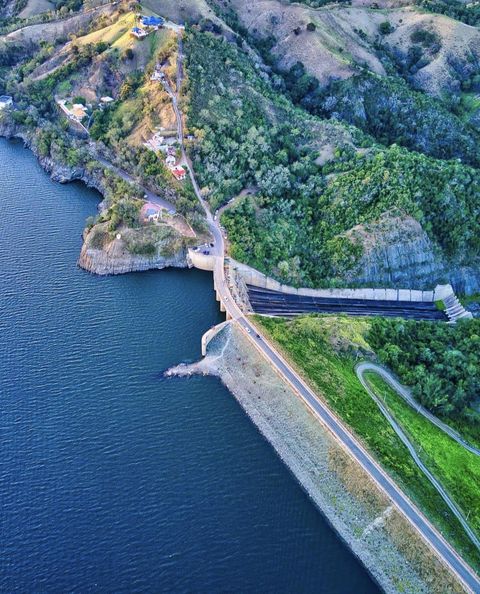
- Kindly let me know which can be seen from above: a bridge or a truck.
bridge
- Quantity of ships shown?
0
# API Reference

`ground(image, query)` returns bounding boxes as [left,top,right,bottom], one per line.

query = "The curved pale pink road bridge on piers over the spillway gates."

[210,240,266,332]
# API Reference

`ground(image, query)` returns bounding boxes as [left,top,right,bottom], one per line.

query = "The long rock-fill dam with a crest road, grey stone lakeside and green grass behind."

[203,319,480,594]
